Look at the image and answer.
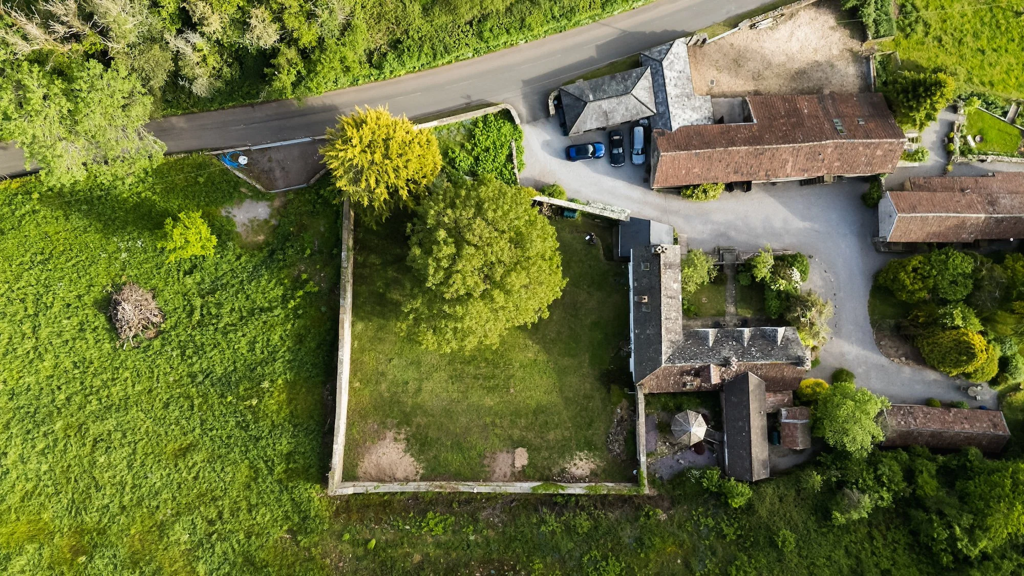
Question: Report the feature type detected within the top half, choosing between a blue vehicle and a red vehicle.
blue vehicle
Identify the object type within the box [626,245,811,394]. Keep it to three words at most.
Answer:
house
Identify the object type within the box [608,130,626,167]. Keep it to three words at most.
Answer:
car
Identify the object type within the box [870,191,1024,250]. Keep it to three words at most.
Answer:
barn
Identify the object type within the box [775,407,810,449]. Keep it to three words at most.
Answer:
shed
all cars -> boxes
[566,140,605,162]
[608,130,626,167]
[629,126,648,165]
